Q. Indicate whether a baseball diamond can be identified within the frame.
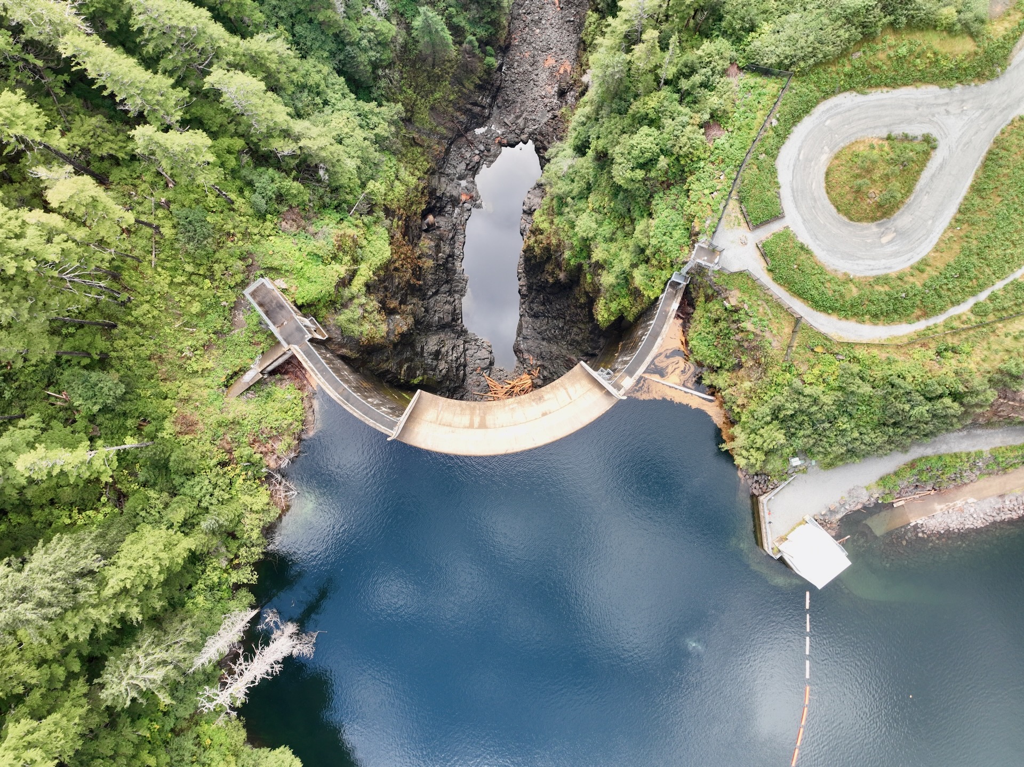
No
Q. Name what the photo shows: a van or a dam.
dam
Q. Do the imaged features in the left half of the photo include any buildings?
No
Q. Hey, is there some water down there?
Yes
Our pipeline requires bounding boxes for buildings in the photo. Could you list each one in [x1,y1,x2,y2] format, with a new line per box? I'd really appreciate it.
[768,517,853,590]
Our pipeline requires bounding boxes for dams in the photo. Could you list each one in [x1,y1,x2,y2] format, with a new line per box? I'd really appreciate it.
[223,268,689,456]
